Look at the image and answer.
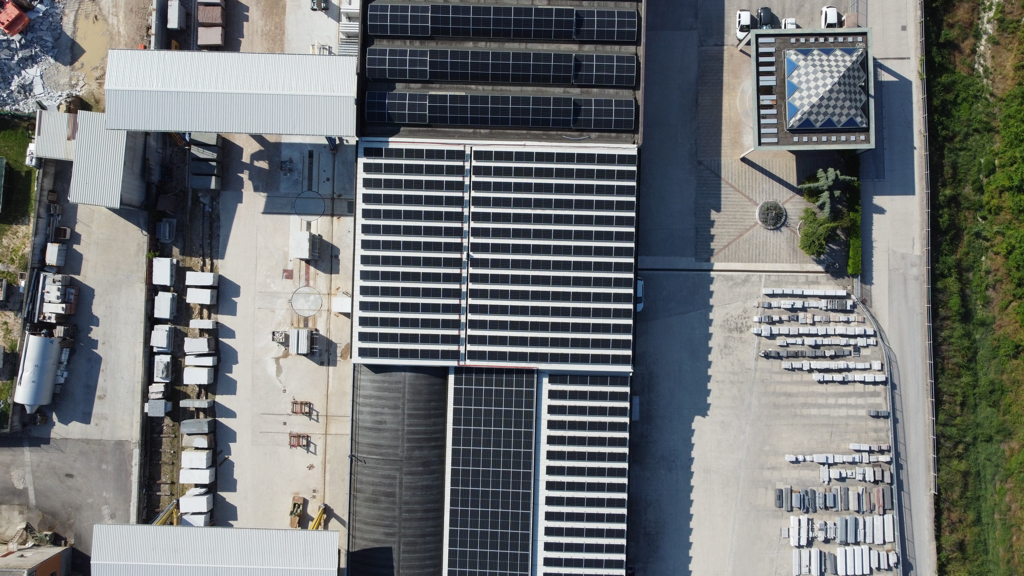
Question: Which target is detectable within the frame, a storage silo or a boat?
storage silo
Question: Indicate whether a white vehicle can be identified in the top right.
Yes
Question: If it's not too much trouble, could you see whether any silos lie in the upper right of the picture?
No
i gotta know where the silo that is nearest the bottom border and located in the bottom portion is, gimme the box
[14,334,64,412]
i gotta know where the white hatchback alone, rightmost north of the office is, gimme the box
[822,3,841,28]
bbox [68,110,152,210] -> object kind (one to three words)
shed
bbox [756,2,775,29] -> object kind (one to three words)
car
